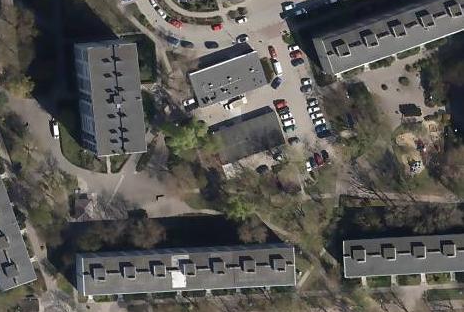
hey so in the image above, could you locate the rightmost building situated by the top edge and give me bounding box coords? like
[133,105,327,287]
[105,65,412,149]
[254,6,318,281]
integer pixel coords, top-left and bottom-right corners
[313,0,464,79]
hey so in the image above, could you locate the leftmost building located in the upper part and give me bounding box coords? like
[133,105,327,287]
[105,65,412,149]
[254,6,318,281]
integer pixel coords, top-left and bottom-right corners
[76,40,147,158]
